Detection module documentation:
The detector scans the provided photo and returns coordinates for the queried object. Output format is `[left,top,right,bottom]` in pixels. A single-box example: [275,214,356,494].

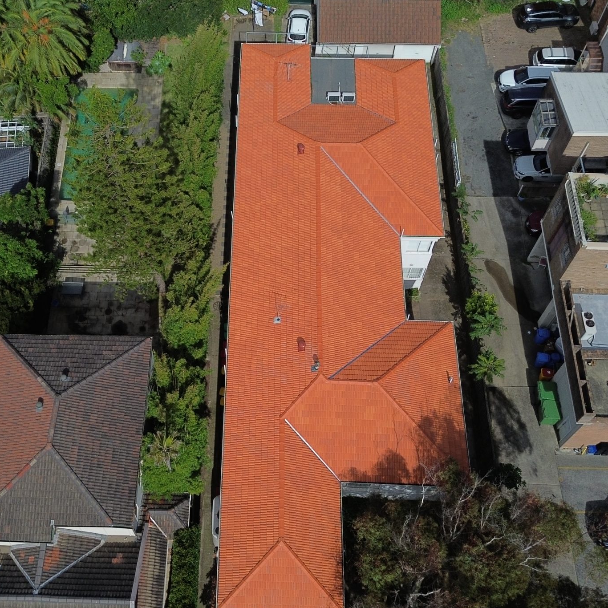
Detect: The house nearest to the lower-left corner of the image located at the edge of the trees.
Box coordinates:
[0,332,196,608]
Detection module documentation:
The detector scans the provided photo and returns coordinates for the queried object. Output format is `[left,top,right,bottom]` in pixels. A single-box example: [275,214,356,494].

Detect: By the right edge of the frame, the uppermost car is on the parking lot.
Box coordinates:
[511,0,579,35]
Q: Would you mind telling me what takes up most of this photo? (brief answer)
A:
buildings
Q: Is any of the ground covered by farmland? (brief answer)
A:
No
